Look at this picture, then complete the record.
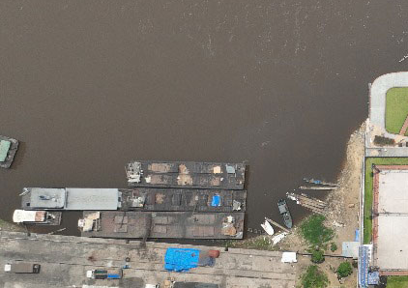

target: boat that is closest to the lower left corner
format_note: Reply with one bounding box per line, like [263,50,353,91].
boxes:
[14,209,63,225]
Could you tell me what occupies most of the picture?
water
